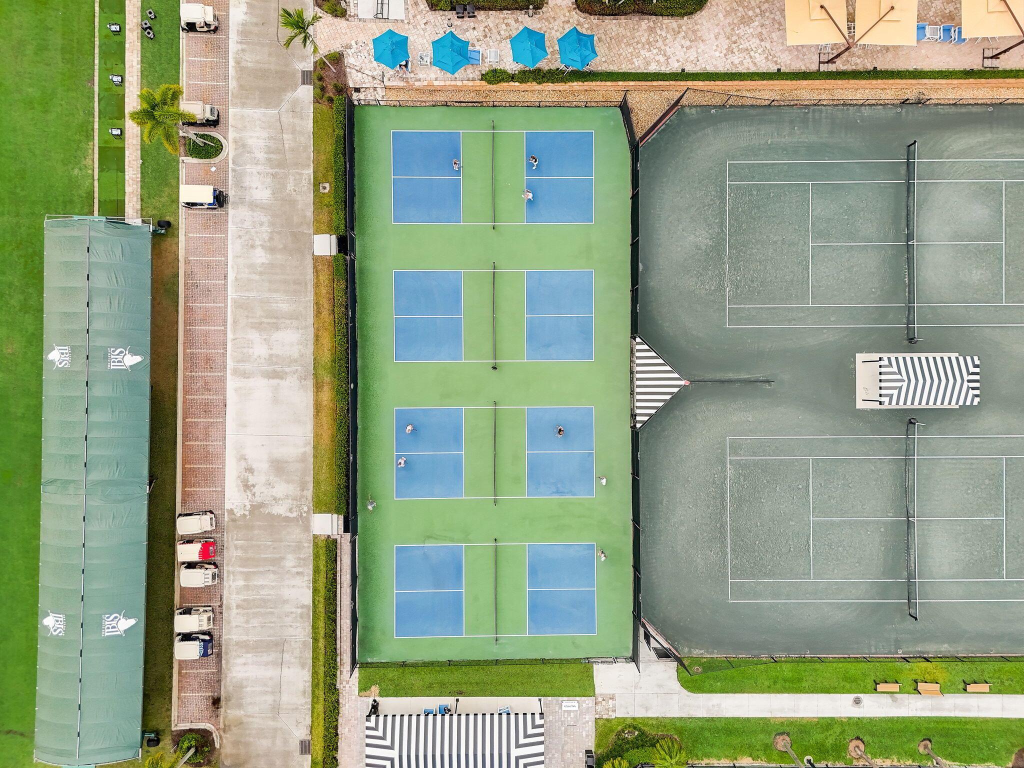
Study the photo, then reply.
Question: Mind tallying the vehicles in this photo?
8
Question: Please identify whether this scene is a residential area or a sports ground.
sports ground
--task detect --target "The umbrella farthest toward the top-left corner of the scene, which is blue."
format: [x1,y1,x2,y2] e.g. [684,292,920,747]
[373,28,410,70]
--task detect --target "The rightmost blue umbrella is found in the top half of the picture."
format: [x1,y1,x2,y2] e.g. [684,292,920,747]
[557,26,598,71]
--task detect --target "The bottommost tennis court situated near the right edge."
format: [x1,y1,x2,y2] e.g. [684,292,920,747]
[636,383,1024,656]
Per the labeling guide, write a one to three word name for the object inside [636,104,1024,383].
tennis court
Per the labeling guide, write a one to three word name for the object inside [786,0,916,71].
umbrella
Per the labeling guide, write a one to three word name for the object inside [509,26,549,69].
umbrella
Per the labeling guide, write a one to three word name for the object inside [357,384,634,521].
sports court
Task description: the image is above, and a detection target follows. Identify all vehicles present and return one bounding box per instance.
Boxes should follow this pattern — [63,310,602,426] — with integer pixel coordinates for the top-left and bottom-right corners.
[175,632,214,660]
[181,102,218,130]
[181,184,229,209]
[177,536,216,560]
[179,562,219,587]
[174,606,214,633]
[176,507,217,532]
[179,2,217,33]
